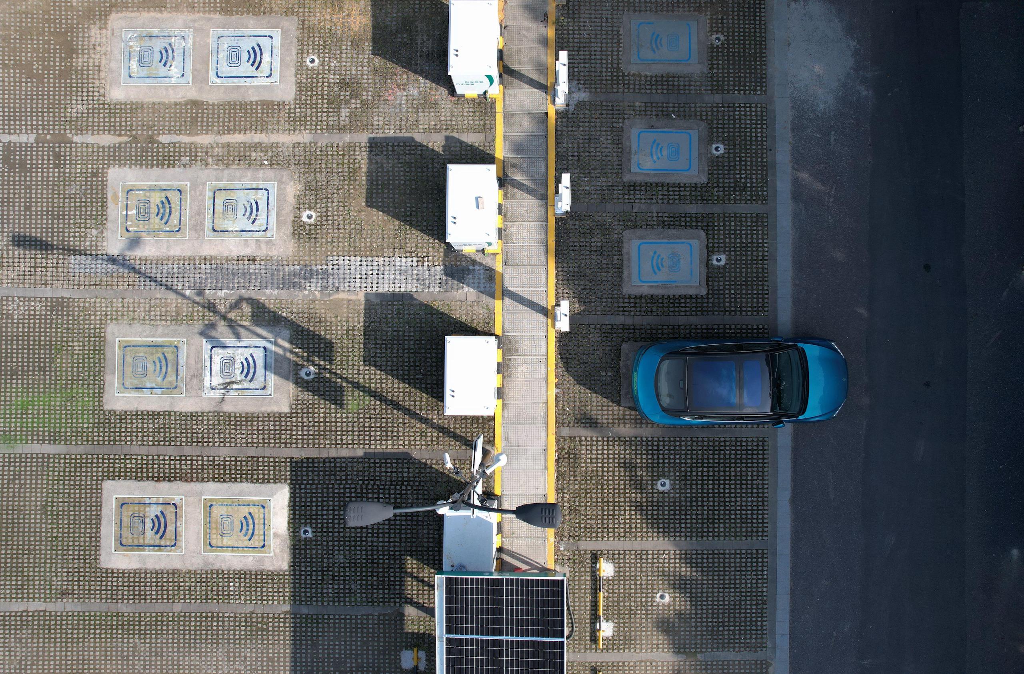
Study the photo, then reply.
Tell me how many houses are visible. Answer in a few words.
0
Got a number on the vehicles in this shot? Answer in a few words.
1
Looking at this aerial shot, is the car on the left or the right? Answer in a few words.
right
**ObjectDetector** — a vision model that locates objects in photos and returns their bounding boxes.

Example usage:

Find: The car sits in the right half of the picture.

[630,337,850,427]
